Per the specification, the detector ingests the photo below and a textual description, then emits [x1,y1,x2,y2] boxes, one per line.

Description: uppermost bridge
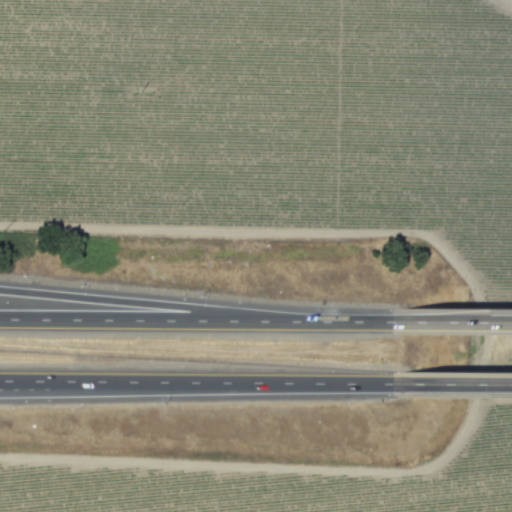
[394,309,512,336]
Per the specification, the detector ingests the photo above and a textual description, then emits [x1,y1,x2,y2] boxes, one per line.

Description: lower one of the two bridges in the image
[394,372,512,399]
